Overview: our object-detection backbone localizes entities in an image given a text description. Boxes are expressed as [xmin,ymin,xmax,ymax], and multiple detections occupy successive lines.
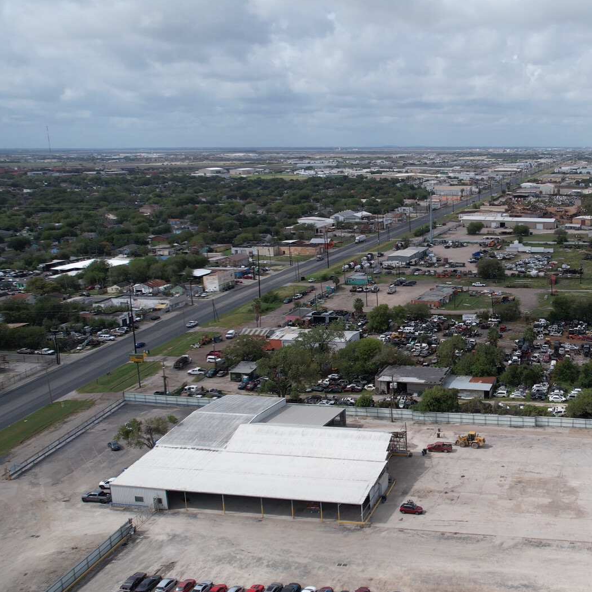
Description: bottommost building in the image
[105,396,405,524]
